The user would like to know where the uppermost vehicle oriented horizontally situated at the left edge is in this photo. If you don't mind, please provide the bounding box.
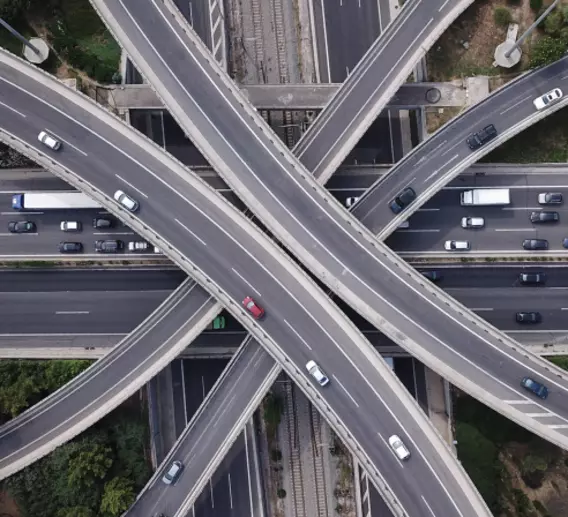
[12,192,103,211]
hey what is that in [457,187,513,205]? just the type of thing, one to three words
vehicle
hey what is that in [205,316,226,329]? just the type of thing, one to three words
vehicle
